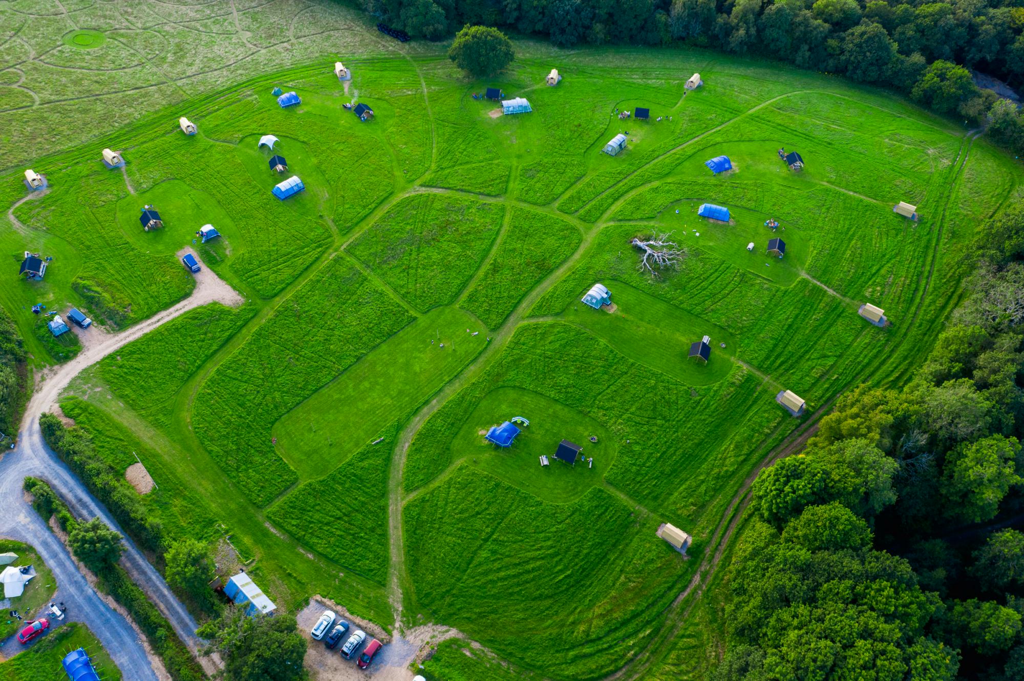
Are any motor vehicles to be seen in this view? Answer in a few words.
Yes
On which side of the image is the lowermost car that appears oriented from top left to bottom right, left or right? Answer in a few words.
left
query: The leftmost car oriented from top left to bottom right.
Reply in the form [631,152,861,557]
[66,308,92,329]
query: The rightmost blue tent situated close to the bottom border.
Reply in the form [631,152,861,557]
[55,643,116,681]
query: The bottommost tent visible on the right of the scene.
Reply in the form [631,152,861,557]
[659,522,689,552]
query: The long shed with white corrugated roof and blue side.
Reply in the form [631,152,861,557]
[223,573,280,619]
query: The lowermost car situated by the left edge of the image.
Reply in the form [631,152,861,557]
[16,619,53,647]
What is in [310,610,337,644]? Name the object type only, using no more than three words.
car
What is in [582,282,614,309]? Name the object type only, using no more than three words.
tent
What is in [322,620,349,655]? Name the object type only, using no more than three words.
car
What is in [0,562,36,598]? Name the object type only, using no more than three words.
tent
